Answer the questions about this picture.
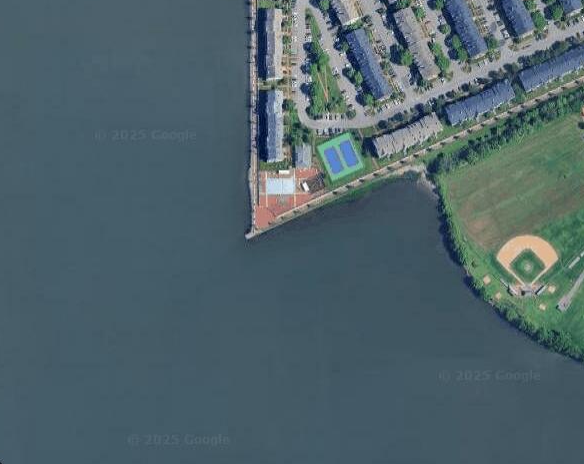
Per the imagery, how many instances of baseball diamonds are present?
1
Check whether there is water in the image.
Yes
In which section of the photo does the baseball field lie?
right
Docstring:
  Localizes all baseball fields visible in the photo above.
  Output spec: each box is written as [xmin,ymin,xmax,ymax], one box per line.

[493,234,560,290]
